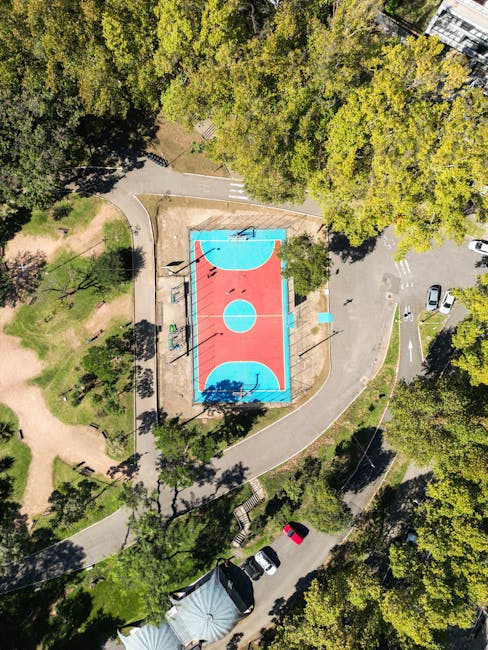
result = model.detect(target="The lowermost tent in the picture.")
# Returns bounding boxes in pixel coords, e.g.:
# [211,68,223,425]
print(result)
[117,607,185,650]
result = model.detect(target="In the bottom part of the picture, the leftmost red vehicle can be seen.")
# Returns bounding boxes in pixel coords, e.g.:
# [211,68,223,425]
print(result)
[283,524,303,545]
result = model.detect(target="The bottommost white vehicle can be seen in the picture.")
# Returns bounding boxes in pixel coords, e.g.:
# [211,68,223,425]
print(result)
[256,551,275,574]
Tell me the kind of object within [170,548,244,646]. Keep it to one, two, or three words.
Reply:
tent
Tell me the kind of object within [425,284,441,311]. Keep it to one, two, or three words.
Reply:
car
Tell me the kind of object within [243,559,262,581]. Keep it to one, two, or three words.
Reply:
car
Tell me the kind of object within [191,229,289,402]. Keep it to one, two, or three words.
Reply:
sports court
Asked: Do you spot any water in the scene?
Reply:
No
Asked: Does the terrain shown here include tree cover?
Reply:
Yes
